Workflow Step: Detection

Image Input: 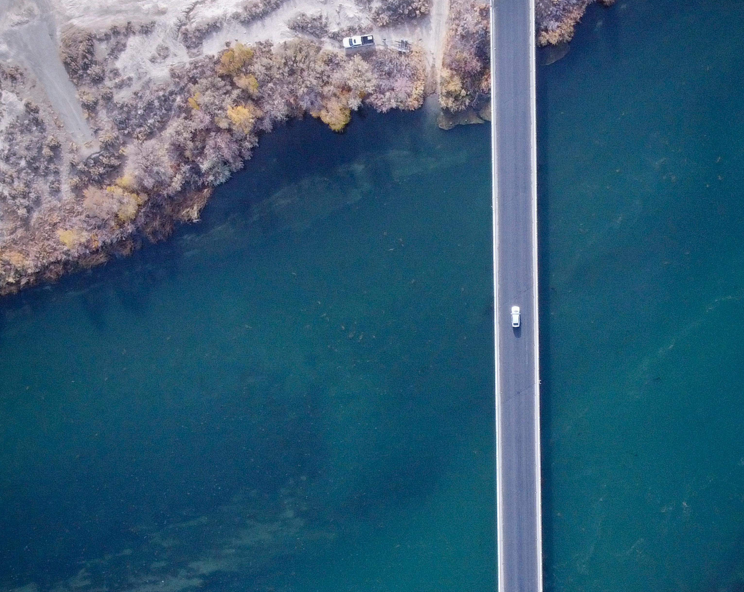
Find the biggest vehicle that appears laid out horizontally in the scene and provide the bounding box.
[344,35,374,48]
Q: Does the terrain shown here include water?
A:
Yes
